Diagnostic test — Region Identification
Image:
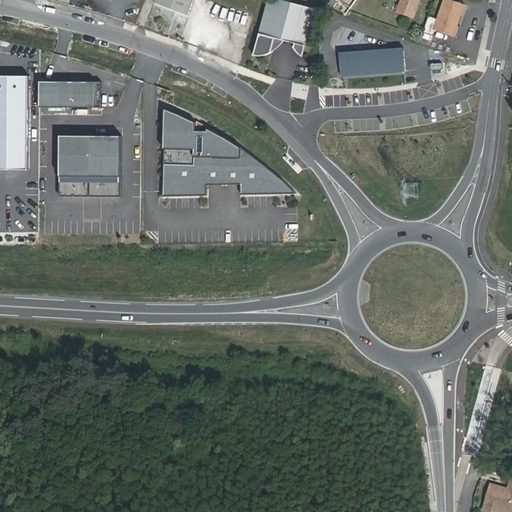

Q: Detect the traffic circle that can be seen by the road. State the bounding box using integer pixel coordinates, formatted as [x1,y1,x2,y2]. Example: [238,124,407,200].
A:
[262,183,512,425]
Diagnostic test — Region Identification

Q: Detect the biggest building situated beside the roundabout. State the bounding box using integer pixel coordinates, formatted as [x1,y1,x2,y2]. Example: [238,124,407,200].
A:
[162,110,300,206]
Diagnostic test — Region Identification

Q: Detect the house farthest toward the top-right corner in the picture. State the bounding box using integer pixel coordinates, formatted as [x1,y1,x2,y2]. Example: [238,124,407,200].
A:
[433,0,469,38]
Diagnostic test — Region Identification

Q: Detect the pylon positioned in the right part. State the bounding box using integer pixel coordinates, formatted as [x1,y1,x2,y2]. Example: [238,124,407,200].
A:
[401,176,420,203]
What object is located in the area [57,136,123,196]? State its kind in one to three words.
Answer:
building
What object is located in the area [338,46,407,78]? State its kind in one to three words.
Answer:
building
